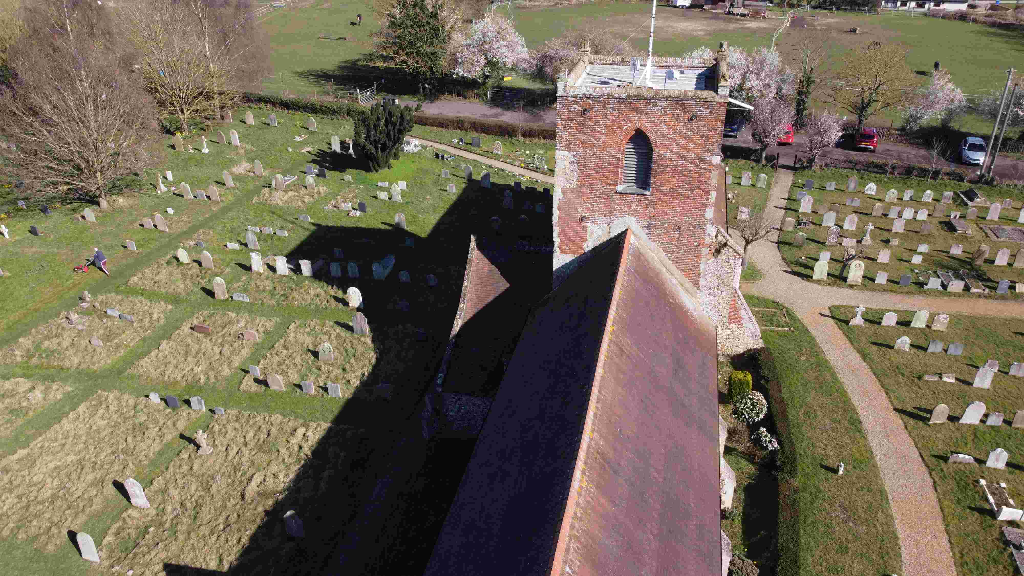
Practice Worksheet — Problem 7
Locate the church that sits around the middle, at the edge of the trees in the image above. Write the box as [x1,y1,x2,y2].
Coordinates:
[418,53,768,576]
